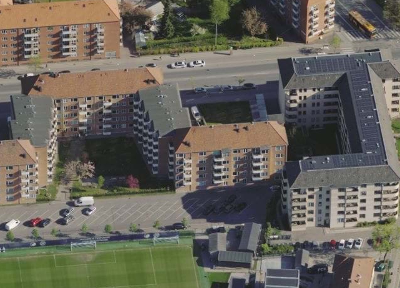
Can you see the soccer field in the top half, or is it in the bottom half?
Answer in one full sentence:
Seen from above, the soccer field lies in the bottom half of the view.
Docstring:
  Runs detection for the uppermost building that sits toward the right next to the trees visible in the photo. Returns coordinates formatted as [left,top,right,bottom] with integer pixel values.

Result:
[251,0,336,41]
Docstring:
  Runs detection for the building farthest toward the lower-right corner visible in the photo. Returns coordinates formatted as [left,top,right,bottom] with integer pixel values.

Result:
[329,252,374,288]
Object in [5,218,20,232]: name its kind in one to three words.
vehicle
